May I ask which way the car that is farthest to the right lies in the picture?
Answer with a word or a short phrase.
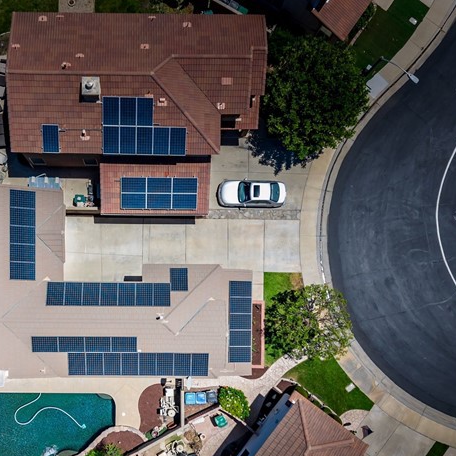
from side to side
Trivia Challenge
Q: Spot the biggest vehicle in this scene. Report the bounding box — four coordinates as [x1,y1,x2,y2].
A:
[217,177,286,209]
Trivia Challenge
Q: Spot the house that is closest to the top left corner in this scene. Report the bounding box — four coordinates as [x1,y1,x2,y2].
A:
[5,10,268,217]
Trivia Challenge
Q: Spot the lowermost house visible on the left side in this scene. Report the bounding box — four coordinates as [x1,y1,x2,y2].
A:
[0,184,252,387]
